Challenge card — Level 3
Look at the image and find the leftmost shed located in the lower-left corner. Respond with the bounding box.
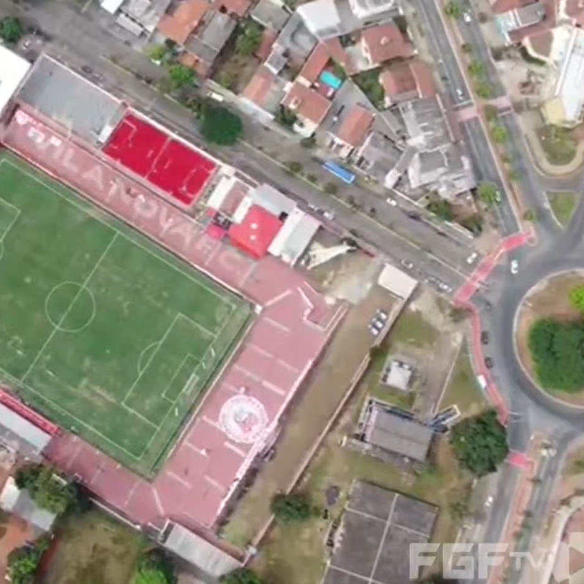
[0,476,19,511]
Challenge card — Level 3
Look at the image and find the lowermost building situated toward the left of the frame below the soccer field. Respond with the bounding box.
[162,518,244,577]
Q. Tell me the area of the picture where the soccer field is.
left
